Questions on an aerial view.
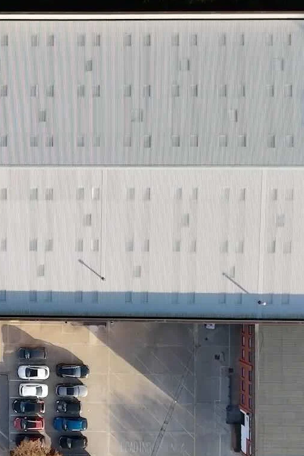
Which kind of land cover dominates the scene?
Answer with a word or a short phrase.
buildings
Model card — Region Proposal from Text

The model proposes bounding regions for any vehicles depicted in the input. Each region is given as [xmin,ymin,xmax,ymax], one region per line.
[13,417,44,430]
[18,346,48,362]
[12,400,45,415]
[18,382,48,398]
[54,416,87,431]
[17,365,50,381]
[57,363,88,379]
[58,435,88,449]
[55,383,87,399]
[55,399,83,414]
